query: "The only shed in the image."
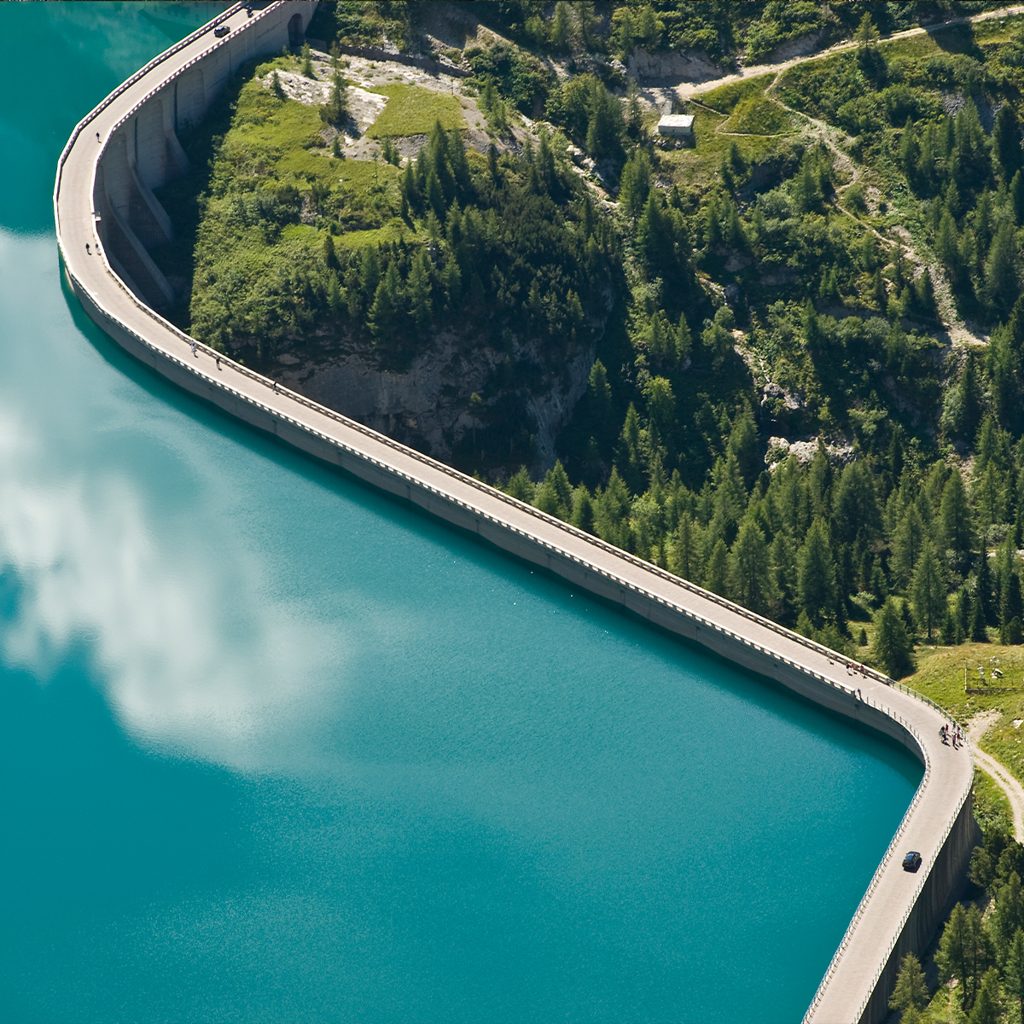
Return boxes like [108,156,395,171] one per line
[656,112,692,136]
